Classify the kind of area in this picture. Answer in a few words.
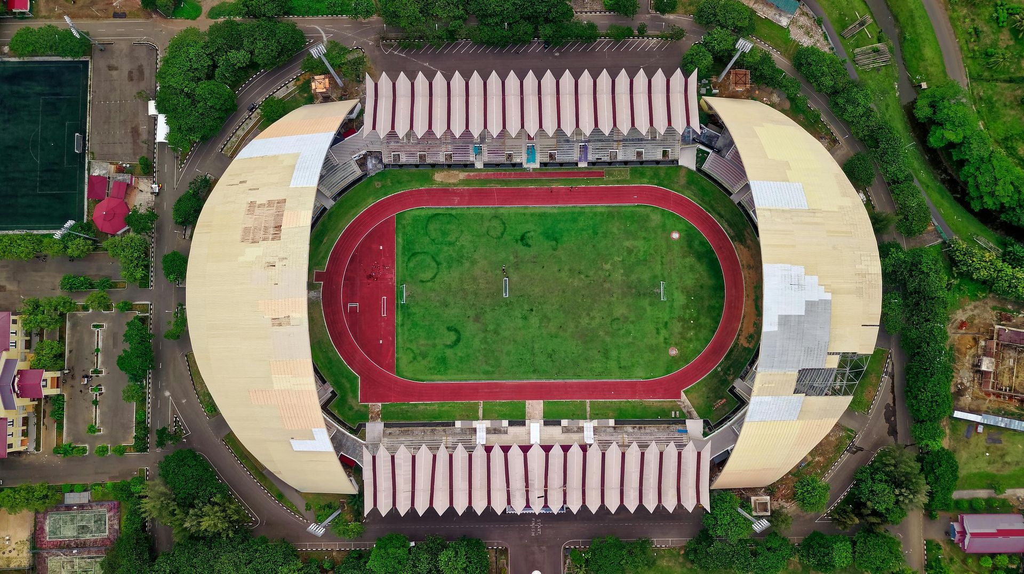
sports ground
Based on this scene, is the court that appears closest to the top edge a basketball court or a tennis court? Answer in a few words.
tennis court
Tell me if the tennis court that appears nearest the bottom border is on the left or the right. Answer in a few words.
left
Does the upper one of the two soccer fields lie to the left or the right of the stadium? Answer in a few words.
to the left of it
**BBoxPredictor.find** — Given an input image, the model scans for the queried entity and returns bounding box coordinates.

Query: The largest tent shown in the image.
[155,114,170,144]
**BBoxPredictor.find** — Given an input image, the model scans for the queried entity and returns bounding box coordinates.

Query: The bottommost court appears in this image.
[29,546,120,574]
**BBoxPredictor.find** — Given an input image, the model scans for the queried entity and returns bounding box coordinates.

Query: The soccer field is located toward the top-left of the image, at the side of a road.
[0,55,91,234]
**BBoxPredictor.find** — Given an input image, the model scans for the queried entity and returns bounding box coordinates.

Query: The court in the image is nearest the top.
[29,502,119,552]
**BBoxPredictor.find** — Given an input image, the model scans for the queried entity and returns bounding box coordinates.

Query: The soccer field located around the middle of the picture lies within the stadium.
[395,204,724,382]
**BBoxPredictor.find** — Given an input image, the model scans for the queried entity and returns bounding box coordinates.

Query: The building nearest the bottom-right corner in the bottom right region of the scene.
[952,514,1024,553]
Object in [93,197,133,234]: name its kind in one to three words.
building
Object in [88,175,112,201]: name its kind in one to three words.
shed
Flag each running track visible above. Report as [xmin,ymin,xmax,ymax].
[314,185,745,404]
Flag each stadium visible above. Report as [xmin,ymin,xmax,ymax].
[186,68,882,517]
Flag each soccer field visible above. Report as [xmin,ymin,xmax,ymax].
[0,55,91,234]
[395,204,724,382]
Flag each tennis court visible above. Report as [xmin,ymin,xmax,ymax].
[29,546,120,574]
[29,502,119,552]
